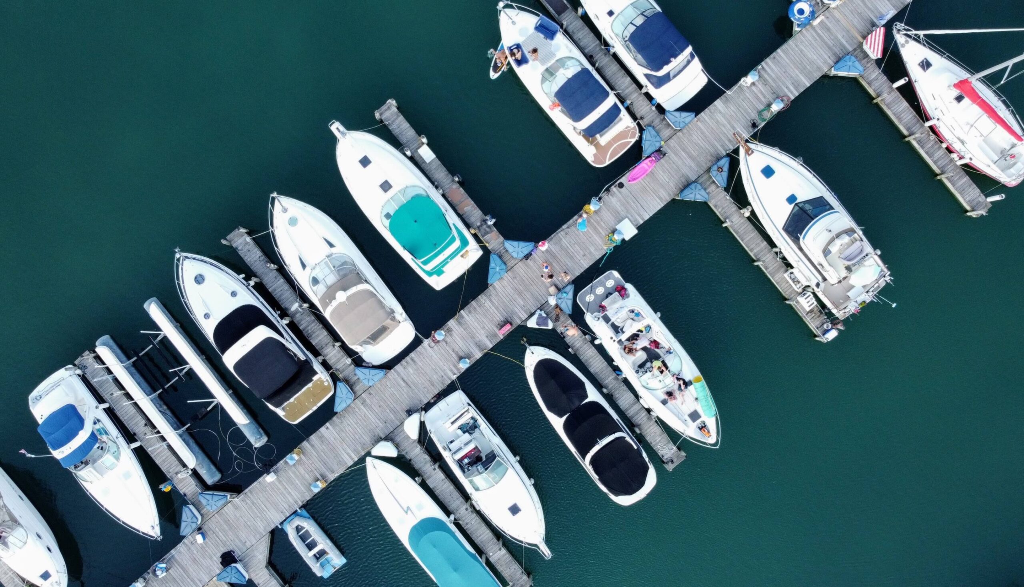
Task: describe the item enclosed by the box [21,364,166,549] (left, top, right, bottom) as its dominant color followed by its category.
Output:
white boat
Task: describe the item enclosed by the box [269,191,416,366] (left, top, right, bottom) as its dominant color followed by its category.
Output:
white boat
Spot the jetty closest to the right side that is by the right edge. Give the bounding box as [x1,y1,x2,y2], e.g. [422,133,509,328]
[848,48,991,217]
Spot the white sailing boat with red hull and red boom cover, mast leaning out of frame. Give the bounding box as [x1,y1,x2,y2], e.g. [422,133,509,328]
[892,22,1024,187]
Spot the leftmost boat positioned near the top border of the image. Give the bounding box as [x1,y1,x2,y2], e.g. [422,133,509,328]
[497,0,640,168]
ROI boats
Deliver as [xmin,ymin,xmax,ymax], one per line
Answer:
[287,515,341,574]
[173,246,335,424]
[424,389,551,560]
[577,270,722,448]
[892,22,1024,187]
[21,364,166,549]
[328,120,483,291]
[579,0,708,111]
[0,462,77,587]
[269,191,416,366]
[366,456,504,587]
[521,337,657,506]
[733,129,896,320]
[497,0,640,168]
